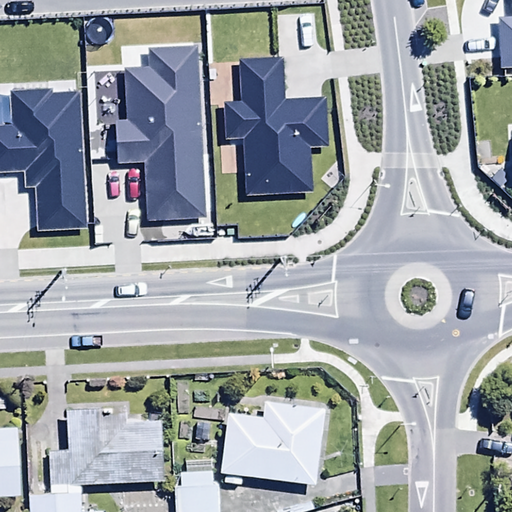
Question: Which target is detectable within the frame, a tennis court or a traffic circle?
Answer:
traffic circle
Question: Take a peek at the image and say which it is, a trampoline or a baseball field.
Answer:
trampoline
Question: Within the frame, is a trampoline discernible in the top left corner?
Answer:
Yes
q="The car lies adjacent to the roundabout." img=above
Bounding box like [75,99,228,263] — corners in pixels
[458,287,476,320]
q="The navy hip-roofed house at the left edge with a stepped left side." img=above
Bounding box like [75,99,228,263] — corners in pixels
[0,88,87,232]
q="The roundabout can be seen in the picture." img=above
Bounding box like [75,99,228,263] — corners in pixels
[385,262,452,329]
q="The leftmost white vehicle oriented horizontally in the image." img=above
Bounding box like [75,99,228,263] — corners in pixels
[114,282,148,296]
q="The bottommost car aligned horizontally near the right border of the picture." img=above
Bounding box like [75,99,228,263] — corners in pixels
[464,37,496,52]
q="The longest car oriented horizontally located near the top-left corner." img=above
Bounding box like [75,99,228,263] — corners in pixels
[4,0,34,15]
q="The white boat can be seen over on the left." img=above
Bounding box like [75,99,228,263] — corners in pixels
[179,224,218,236]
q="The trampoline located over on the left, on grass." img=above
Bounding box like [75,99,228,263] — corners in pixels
[86,17,113,44]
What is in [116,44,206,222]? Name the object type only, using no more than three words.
house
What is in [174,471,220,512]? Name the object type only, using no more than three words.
house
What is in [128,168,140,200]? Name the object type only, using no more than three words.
vehicle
